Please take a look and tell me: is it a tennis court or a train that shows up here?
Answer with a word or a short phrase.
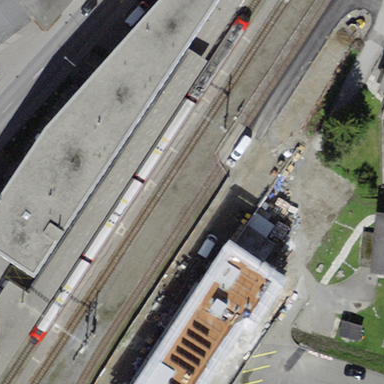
train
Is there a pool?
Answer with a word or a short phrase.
No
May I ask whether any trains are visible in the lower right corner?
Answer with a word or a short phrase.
No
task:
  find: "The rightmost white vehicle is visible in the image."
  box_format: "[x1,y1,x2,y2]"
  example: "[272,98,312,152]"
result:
[230,136,250,162]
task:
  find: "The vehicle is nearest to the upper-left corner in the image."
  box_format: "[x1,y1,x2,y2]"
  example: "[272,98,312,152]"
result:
[80,0,96,15]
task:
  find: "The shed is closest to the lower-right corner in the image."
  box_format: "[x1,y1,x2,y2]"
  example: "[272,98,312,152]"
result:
[338,322,364,344]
